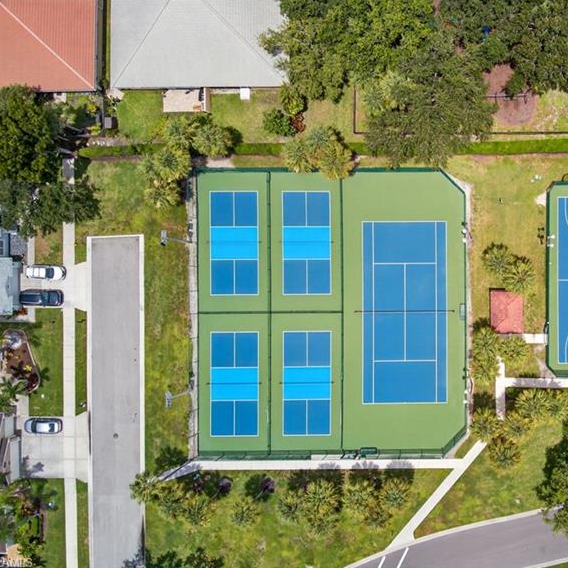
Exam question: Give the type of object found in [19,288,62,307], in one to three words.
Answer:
car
